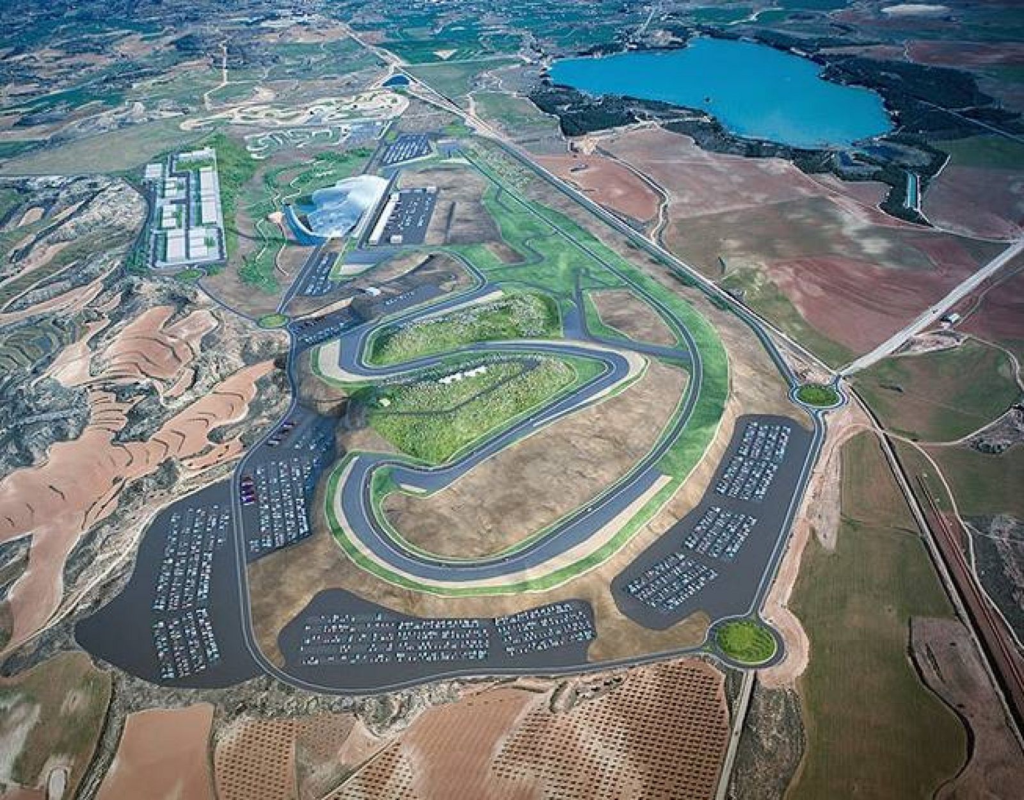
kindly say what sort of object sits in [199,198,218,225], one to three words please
building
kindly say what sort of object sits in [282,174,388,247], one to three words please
building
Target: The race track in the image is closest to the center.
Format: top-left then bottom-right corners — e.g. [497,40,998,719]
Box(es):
[353,148,700,568]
